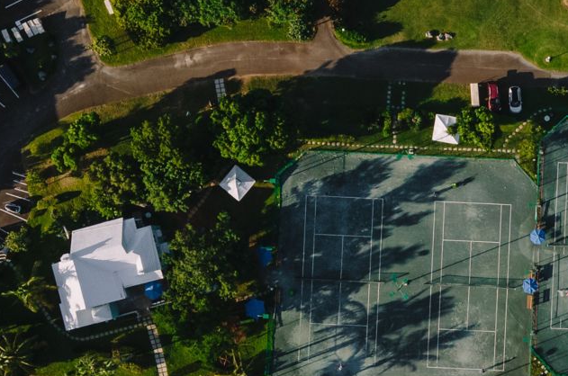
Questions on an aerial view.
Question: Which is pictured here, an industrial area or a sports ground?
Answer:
sports ground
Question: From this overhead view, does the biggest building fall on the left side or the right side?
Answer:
left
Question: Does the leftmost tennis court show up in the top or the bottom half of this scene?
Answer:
bottom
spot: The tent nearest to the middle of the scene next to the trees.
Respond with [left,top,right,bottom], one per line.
[221,166,255,201]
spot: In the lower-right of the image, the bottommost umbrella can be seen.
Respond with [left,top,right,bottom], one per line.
[522,277,538,293]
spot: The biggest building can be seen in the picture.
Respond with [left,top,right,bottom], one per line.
[53,217,167,330]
